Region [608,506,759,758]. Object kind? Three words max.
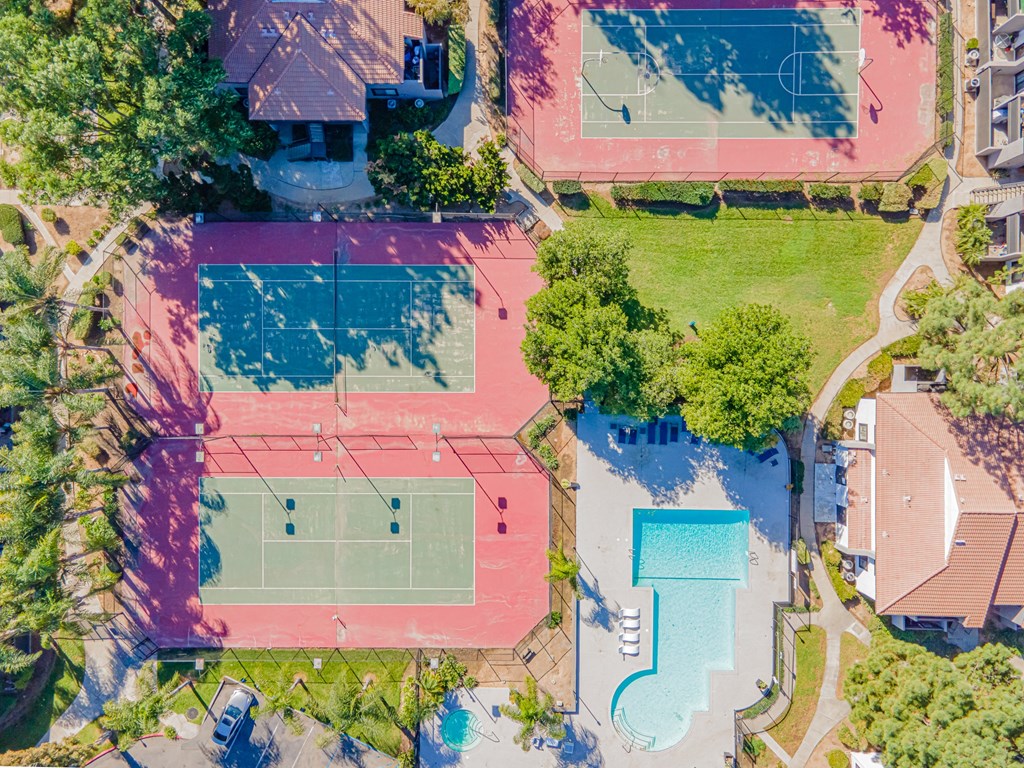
swimming pool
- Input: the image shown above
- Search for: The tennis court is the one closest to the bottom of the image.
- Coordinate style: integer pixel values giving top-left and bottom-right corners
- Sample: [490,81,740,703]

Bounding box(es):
[121,436,550,648]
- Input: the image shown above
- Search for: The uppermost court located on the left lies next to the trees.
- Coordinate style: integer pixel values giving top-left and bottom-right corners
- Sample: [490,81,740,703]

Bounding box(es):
[123,222,551,437]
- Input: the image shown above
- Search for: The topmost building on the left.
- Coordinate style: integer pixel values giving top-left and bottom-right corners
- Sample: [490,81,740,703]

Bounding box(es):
[208,0,438,162]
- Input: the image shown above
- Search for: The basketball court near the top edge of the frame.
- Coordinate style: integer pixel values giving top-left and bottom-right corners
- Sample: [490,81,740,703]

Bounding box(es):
[508,0,937,180]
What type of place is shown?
sports ground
